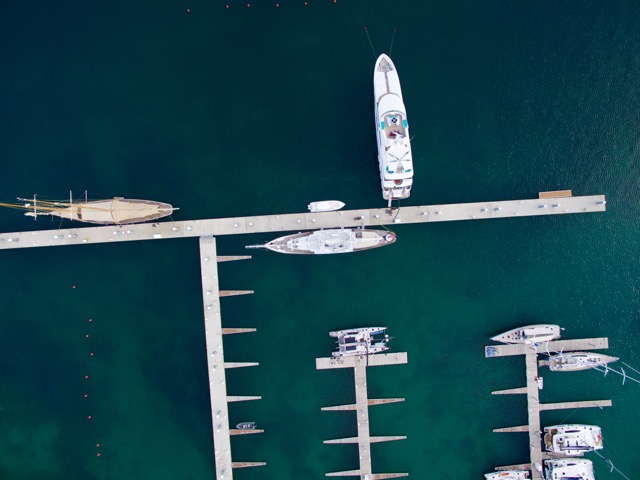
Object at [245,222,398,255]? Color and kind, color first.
white boat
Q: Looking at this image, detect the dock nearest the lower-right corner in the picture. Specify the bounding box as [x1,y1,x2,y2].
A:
[485,338,611,480]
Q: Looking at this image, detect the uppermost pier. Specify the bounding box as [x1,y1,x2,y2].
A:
[0,195,606,250]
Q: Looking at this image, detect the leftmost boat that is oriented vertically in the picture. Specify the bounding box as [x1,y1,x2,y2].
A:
[365,28,415,210]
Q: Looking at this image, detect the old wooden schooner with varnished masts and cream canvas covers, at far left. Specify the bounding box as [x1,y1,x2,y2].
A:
[0,189,178,229]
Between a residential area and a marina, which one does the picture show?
marina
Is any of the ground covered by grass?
No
